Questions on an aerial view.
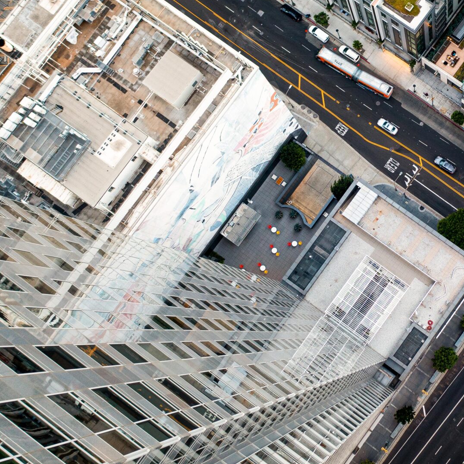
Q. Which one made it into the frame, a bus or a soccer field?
bus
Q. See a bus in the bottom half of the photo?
No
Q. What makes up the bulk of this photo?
buildings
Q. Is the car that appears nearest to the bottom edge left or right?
right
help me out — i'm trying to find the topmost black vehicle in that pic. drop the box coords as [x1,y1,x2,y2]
[279,4,303,23]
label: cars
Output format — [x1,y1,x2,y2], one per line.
[279,4,303,23]
[376,118,399,136]
[308,25,331,44]
[339,44,361,63]
[434,155,458,176]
